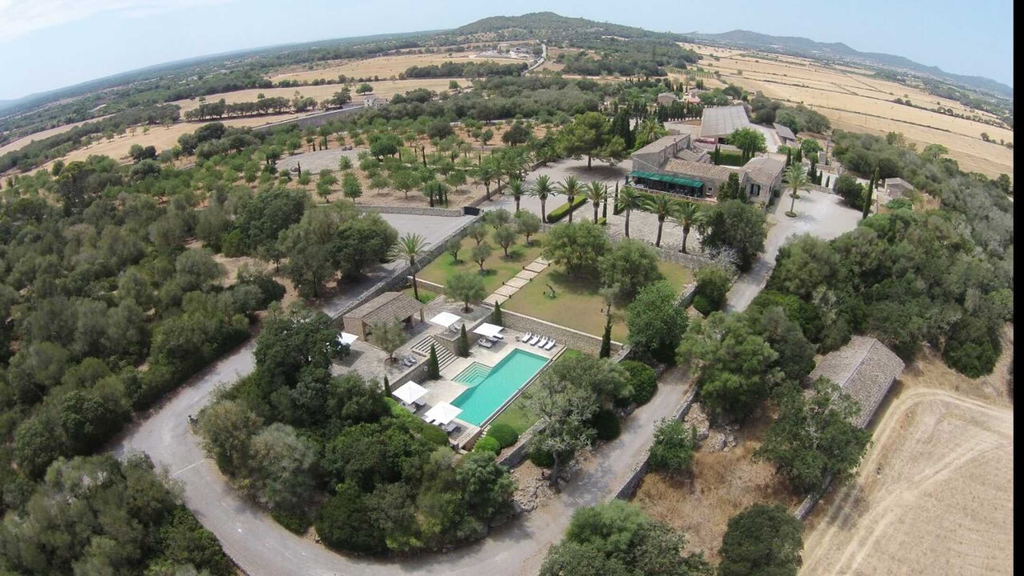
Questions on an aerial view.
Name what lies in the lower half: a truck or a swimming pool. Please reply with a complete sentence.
You can see a swimming pool in the lower half.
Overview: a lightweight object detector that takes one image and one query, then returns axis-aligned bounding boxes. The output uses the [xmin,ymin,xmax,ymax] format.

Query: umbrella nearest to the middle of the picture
[468,321,500,347]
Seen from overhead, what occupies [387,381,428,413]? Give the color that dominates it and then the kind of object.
white umbrella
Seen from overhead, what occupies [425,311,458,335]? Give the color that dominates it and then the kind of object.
white umbrella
